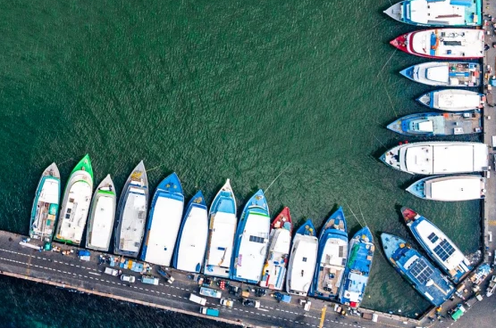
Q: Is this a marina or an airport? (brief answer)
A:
marina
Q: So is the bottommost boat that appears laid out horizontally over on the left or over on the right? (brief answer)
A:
right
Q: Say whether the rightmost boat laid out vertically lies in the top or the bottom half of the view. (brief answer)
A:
bottom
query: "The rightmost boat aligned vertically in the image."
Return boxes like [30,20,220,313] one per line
[337,226,371,308]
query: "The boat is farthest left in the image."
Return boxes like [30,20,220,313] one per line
[30,163,60,241]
